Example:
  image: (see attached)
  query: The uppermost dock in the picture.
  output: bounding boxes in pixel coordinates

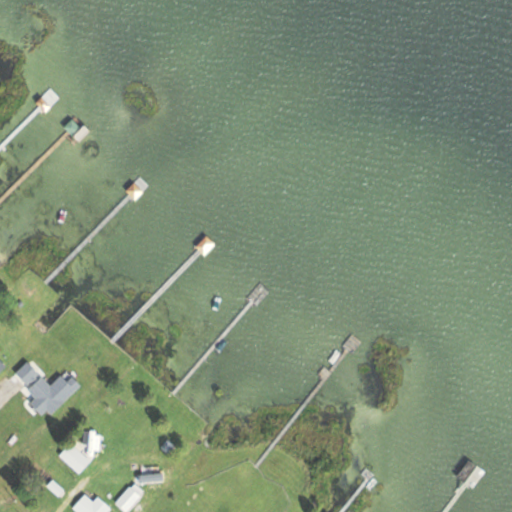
[0,89,59,154]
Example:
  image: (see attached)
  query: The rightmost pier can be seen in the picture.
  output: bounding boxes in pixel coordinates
[442,461,486,512]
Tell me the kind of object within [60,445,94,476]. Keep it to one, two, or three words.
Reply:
building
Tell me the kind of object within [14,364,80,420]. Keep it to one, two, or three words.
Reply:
house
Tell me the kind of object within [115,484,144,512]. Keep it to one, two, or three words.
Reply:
house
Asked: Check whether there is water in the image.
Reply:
Yes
